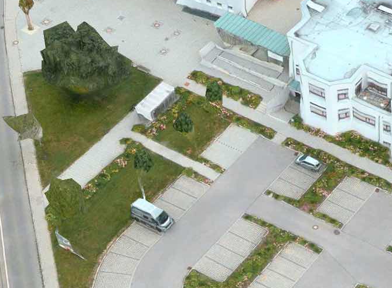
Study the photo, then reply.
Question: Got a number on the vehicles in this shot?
2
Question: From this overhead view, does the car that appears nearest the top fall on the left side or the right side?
right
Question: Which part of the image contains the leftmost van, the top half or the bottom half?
bottom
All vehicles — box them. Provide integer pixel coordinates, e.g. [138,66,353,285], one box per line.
[127,197,176,234]
[291,154,326,175]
